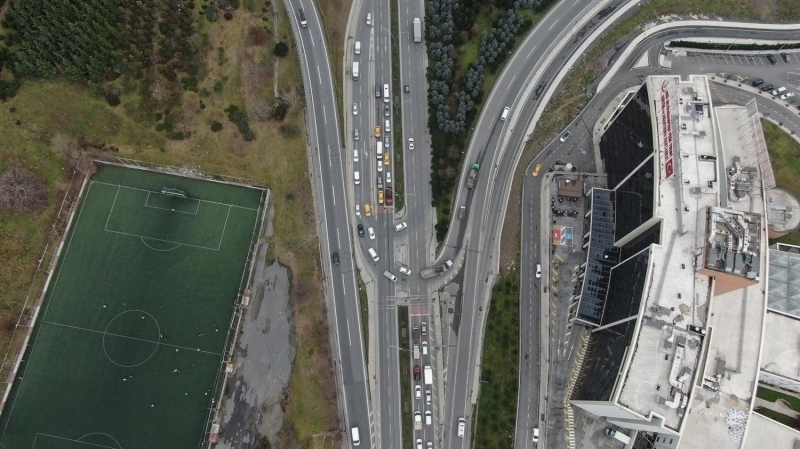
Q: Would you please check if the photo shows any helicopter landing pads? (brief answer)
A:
No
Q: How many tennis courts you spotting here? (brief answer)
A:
0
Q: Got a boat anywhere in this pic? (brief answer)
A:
No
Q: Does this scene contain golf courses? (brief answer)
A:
No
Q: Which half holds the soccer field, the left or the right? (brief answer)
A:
left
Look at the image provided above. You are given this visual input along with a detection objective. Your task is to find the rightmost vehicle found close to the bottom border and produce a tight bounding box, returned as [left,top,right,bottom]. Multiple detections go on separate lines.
[603,427,633,445]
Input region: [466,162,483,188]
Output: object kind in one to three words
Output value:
vehicle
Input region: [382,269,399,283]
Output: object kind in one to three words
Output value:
vehicle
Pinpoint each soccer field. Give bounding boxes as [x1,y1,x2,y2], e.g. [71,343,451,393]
[0,162,266,449]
